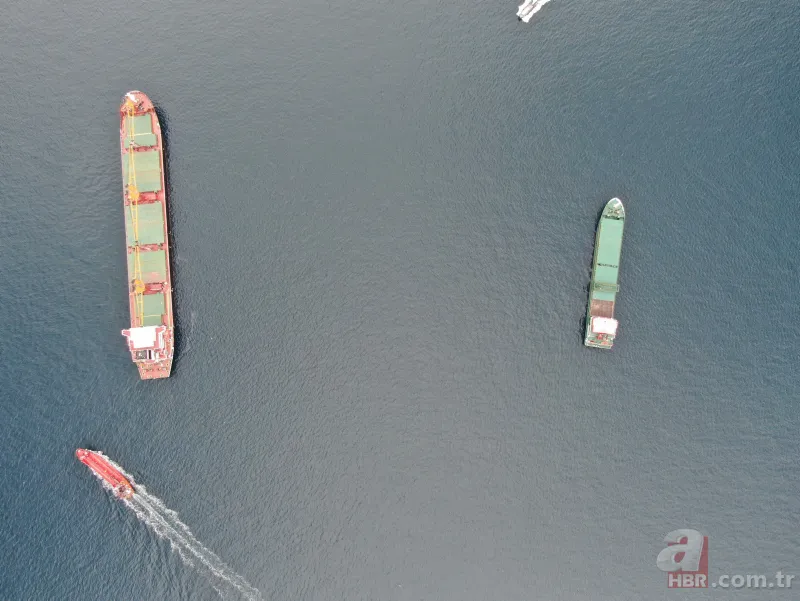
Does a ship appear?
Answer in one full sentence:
Yes, looking at the shot, I can spot a ship.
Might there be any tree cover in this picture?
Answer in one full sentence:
No, the scene doesn't show any tree cover.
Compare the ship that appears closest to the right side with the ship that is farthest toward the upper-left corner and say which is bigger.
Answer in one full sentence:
The larger object is the ship that is farthest toward the upper-left corner, with the ship that appears closest to the right side being the smaller of the pair.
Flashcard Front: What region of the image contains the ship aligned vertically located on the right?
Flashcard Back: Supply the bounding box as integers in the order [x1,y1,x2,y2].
[584,197,624,349]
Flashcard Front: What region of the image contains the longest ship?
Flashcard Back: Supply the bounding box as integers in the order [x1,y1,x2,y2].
[120,91,179,379]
